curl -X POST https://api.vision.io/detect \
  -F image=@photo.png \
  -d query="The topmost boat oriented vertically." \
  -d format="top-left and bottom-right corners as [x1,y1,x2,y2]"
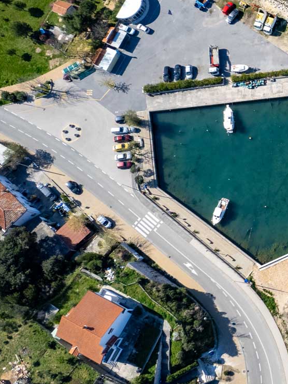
[223,102,237,134]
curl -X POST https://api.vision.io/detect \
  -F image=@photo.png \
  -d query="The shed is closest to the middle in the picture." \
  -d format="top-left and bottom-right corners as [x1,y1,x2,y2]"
[56,220,96,249]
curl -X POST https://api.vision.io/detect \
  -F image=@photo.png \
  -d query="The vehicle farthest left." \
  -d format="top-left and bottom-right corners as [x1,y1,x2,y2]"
[36,182,56,200]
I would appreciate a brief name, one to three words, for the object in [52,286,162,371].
house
